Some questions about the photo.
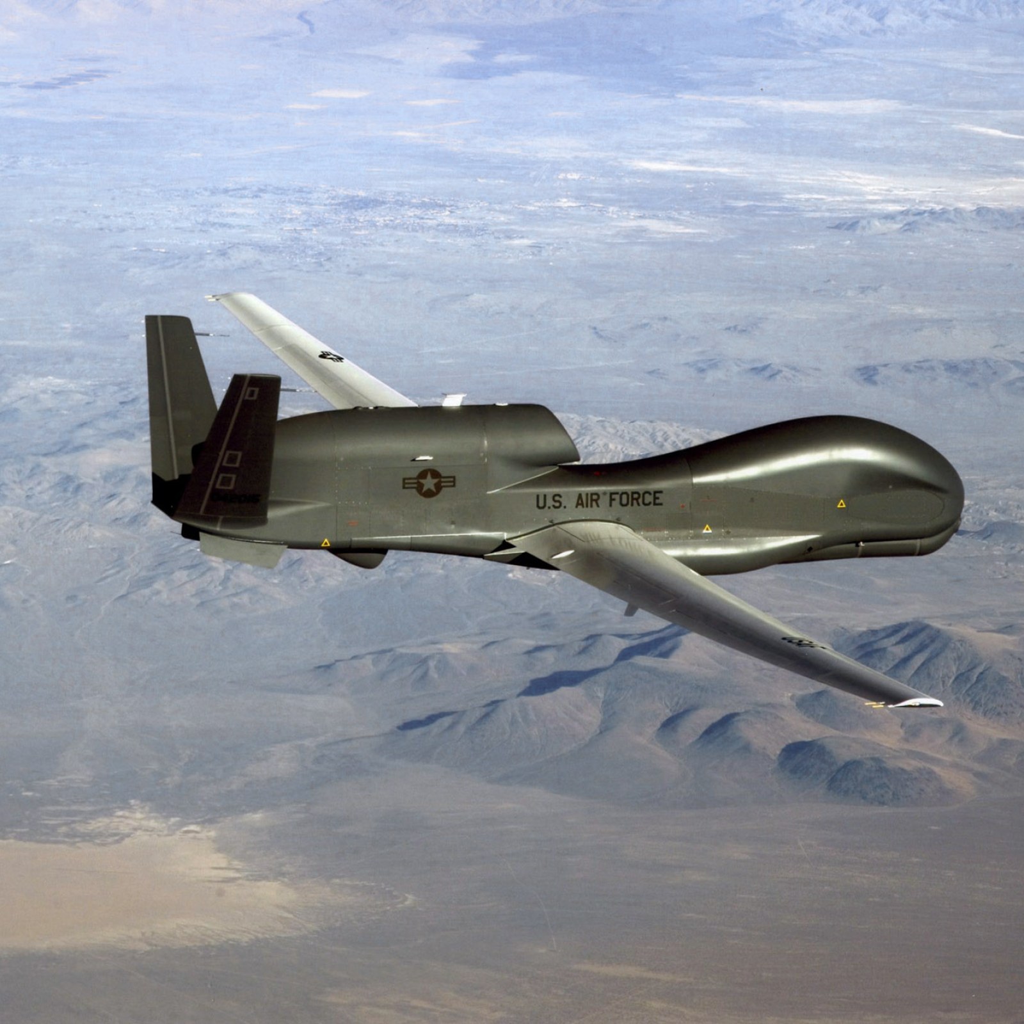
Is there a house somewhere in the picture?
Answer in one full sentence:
No, there is no house in the image.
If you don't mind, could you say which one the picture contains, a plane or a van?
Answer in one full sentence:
Looking from above, you can make out a plane.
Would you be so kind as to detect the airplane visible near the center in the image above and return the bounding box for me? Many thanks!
[141,292,964,709]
